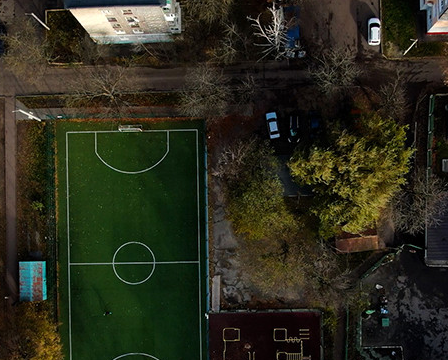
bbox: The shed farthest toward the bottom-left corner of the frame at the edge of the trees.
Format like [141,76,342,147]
[19,260,51,302]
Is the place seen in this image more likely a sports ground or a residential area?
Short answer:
sports ground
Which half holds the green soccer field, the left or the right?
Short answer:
left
